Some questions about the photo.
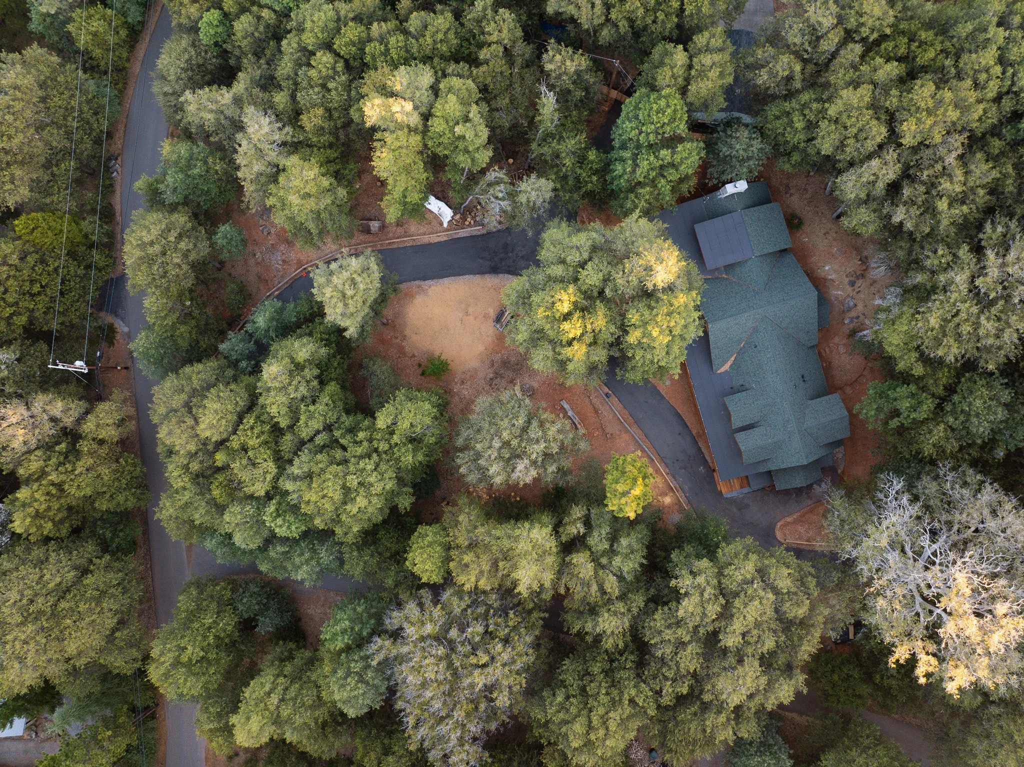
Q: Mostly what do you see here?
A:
trees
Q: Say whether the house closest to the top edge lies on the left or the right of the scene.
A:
right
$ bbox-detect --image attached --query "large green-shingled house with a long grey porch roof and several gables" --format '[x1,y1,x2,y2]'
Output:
[647,181,849,492]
